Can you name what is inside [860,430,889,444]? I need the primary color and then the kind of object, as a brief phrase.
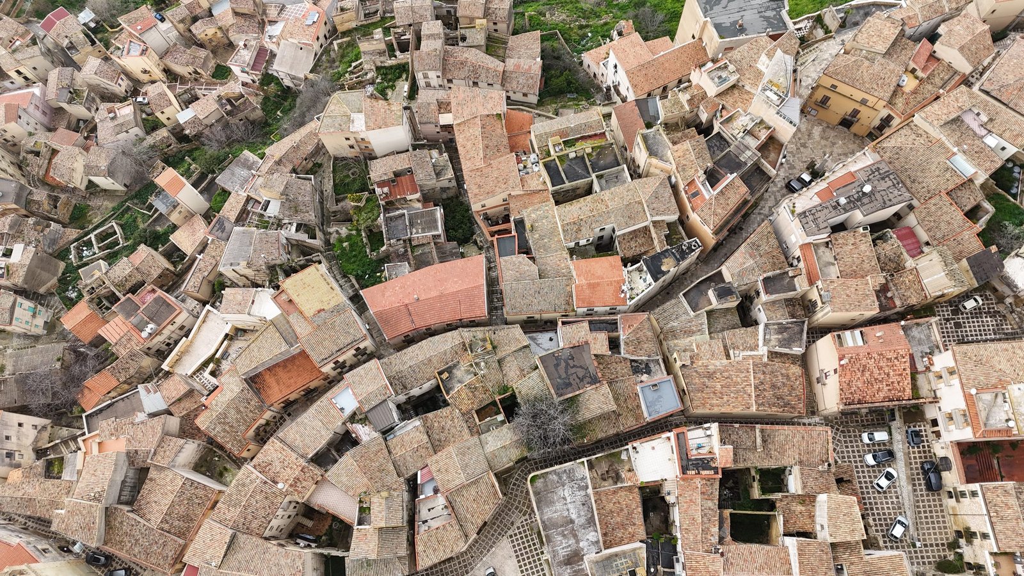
white car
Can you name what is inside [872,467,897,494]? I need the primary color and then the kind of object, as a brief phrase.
white car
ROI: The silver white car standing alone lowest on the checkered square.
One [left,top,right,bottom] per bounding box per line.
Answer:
[885,514,907,543]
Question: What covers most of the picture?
buildings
